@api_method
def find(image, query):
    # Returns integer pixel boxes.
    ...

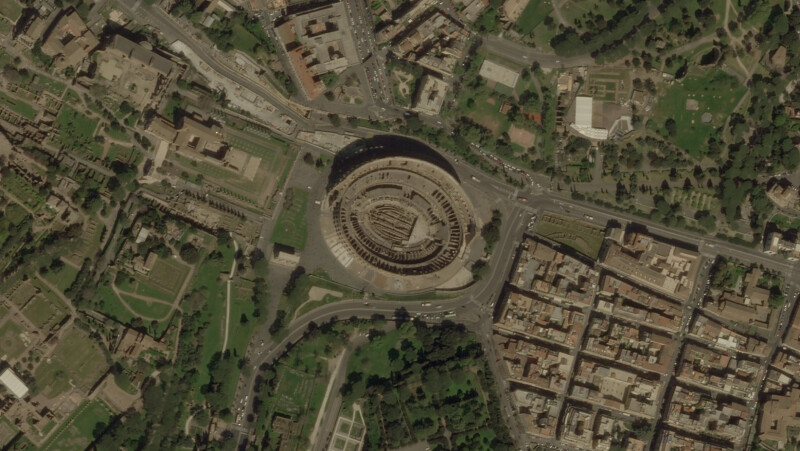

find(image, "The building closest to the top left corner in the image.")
[16,16,46,50]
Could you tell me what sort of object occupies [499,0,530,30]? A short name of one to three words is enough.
house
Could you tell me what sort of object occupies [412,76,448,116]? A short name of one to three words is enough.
building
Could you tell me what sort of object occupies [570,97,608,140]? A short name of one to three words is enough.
building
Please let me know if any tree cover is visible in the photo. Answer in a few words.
Yes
